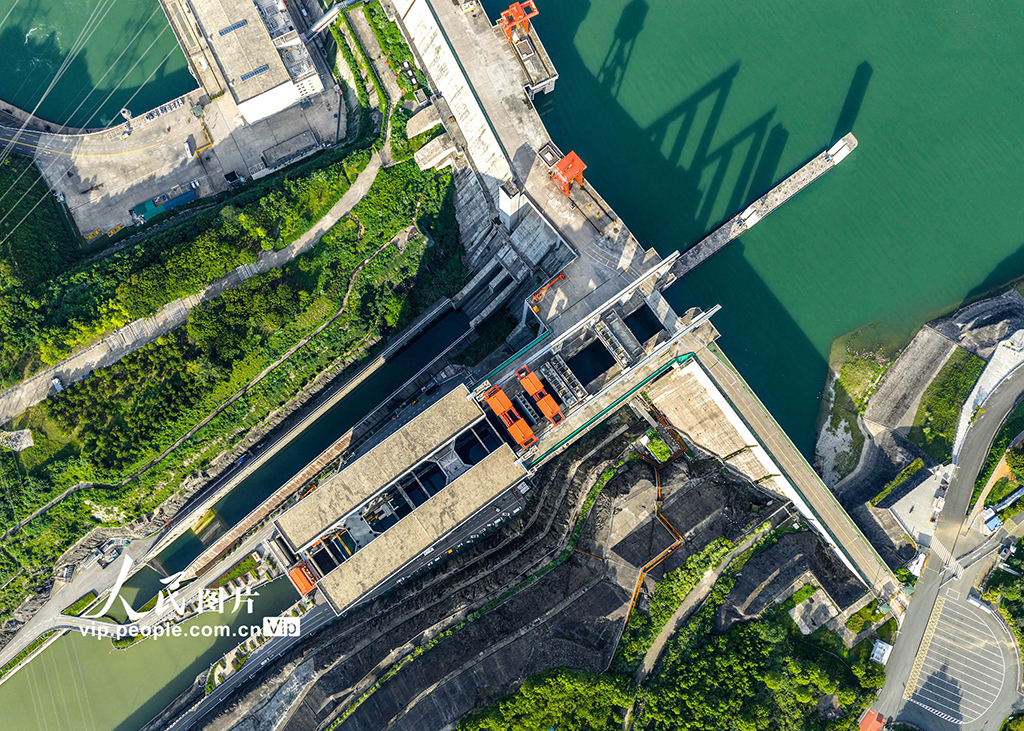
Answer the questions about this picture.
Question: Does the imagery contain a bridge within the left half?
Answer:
Yes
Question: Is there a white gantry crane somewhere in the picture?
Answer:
No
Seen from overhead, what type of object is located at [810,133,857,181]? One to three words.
pier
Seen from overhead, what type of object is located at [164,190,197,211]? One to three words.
shed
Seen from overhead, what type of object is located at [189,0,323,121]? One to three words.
building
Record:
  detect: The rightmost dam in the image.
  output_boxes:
[385,0,901,587]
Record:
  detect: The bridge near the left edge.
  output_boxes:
[0,603,166,675]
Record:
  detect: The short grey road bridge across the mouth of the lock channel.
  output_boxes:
[643,288,690,335]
